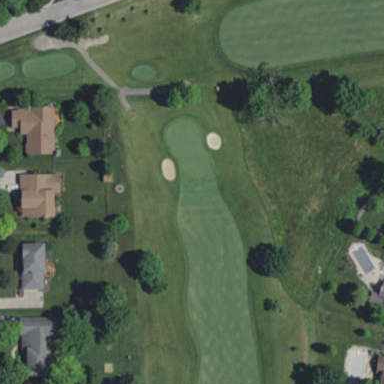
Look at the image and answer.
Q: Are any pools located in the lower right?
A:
Yes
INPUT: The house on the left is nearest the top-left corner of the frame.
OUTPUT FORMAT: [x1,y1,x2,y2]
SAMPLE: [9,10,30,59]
[11,108,55,154]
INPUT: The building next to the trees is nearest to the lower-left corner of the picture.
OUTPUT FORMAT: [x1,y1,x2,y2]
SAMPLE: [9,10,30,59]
[20,318,52,380]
